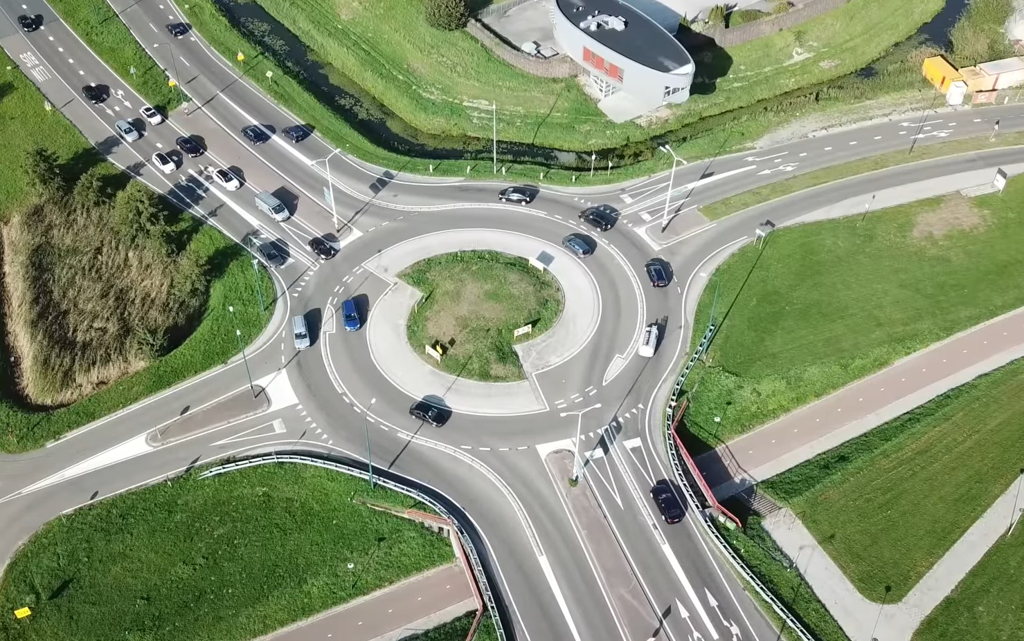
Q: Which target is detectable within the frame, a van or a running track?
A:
van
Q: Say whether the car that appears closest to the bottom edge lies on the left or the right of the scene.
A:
right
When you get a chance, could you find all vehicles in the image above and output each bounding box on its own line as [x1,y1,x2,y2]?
[254,187,291,221]
[255,244,285,268]
[213,171,240,191]
[636,322,661,358]
[648,485,684,526]
[341,299,362,333]
[84,85,105,104]
[242,128,267,145]
[153,154,176,174]
[116,122,138,142]
[577,212,612,233]
[499,191,531,207]
[290,317,311,351]
[560,237,593,259]
[283,128,305,144]
[647,264,667,289]
[141,107,162,125]
[176,139,201,158]
[406,403,447,431]
[308,238,335,261]
[19,17,35,32]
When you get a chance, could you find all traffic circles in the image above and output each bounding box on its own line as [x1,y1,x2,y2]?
[62,166,687,641]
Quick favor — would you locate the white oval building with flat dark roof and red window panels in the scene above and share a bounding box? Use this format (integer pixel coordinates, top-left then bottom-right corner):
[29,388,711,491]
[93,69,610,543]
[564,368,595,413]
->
[550,0,694,123]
